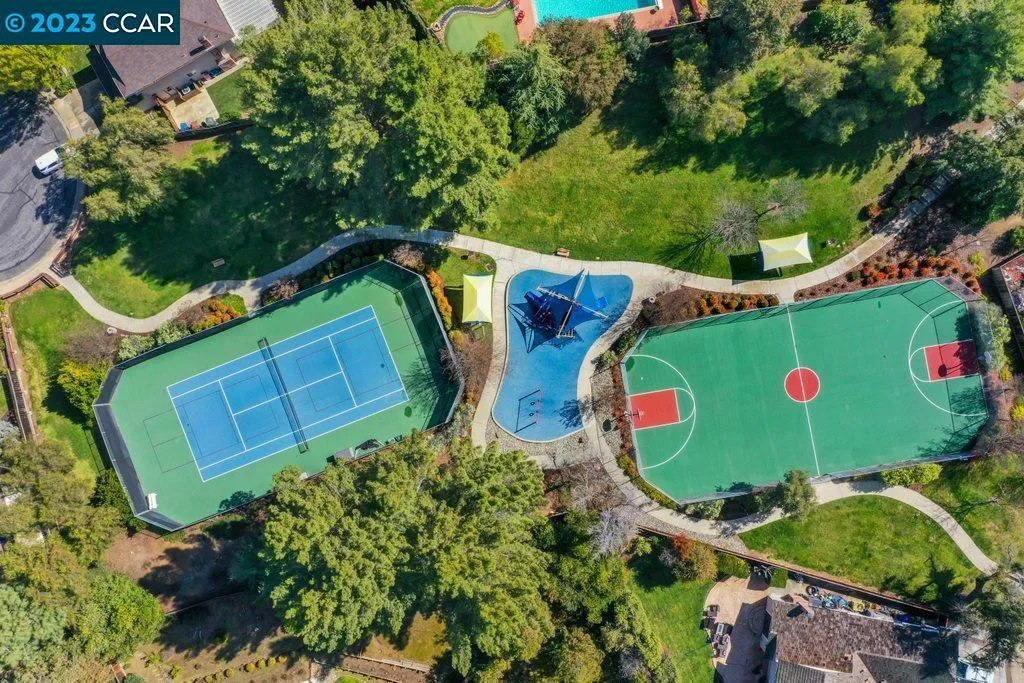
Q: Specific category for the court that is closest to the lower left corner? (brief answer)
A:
tennis court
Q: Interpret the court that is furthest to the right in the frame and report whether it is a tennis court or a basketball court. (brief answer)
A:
basketball court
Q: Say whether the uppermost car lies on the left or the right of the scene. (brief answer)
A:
left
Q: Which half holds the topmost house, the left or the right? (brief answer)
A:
left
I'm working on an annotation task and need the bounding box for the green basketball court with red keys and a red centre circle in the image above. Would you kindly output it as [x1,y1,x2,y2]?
[620,277,990,504]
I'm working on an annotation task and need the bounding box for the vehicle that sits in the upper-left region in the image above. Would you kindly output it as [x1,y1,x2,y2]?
[32,146,74,175]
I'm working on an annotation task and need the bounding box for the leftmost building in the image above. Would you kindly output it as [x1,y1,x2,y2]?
[70,0,239,102]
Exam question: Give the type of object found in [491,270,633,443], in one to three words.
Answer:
playground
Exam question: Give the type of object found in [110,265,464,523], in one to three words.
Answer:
tennis court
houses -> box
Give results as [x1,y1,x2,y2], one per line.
[70,0,239,102]
[760,592,959,683]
